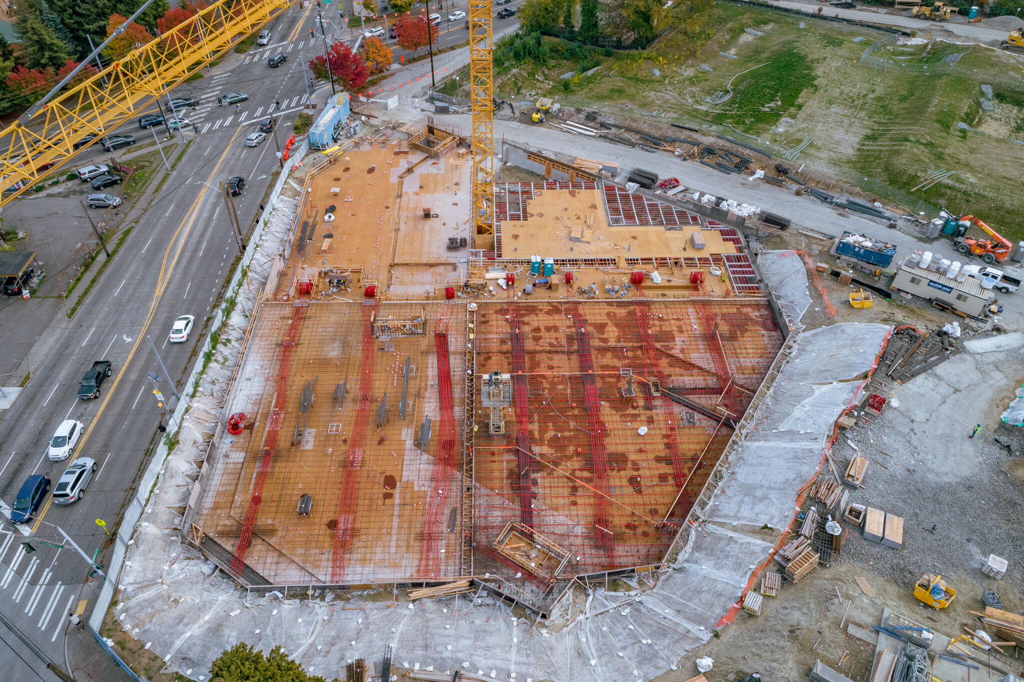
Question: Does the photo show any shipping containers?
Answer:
Yes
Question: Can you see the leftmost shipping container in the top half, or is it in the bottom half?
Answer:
top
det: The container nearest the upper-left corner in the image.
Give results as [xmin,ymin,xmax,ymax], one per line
[306,92,361,148]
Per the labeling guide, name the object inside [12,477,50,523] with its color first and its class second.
blue car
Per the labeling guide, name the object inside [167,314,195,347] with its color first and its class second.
white car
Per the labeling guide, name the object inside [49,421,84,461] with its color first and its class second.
white car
